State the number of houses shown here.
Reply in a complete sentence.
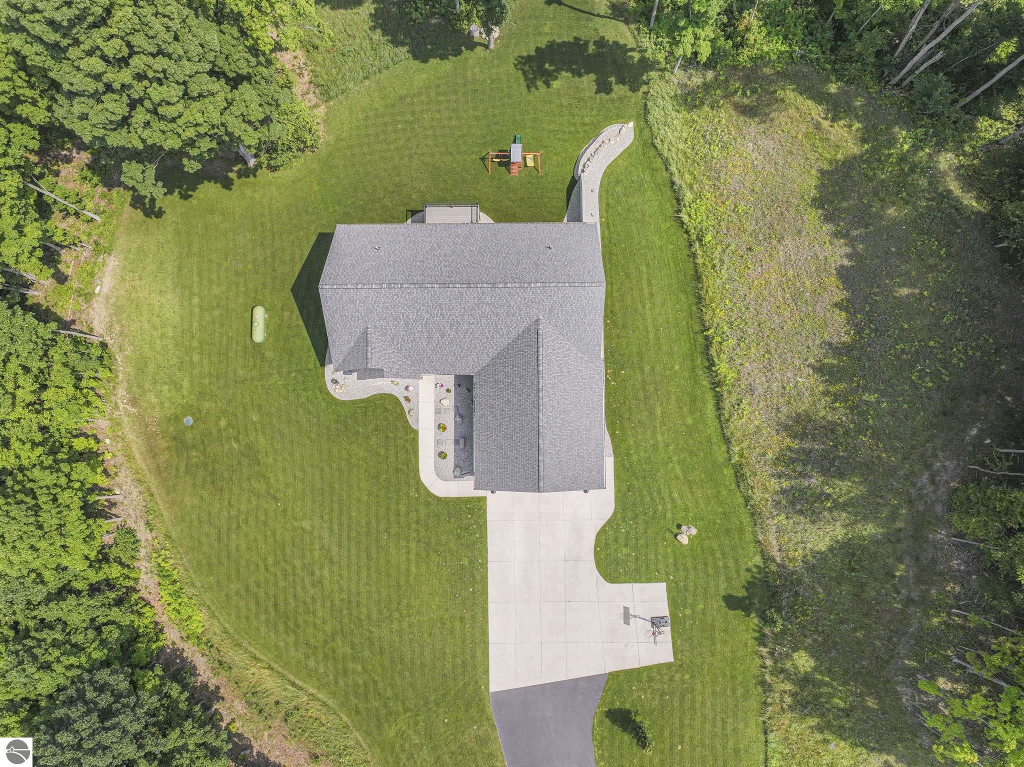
My tally gives 1 house in this photo.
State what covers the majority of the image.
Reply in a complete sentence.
What you mostly see from above here is grass.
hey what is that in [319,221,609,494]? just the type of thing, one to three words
house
